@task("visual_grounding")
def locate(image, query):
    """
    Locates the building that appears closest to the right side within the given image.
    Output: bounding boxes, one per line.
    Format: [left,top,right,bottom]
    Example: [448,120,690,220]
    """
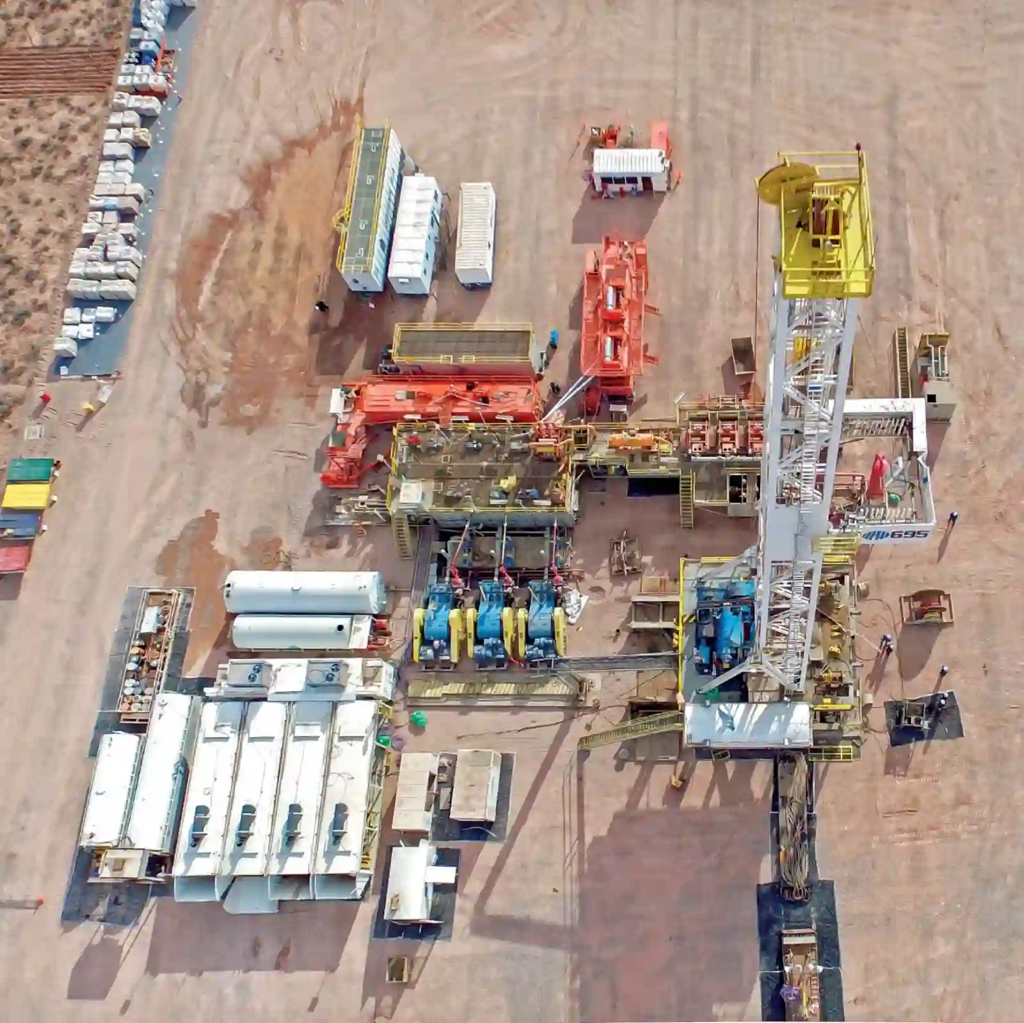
[915,333,958,416]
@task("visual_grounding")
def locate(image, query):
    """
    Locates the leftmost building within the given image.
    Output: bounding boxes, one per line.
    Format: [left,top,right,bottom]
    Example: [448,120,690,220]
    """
[205,659,399,703]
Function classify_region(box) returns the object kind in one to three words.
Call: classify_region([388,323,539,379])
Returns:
storage tank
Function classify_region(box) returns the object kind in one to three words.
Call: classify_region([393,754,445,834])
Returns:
building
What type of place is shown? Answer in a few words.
industrial area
